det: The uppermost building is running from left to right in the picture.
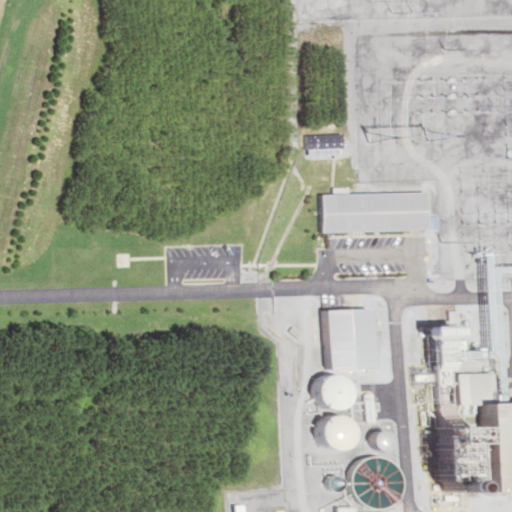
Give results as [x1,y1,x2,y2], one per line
[302,135,344,150]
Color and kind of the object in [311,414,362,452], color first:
white storage tank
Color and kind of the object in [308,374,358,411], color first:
white storage tank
